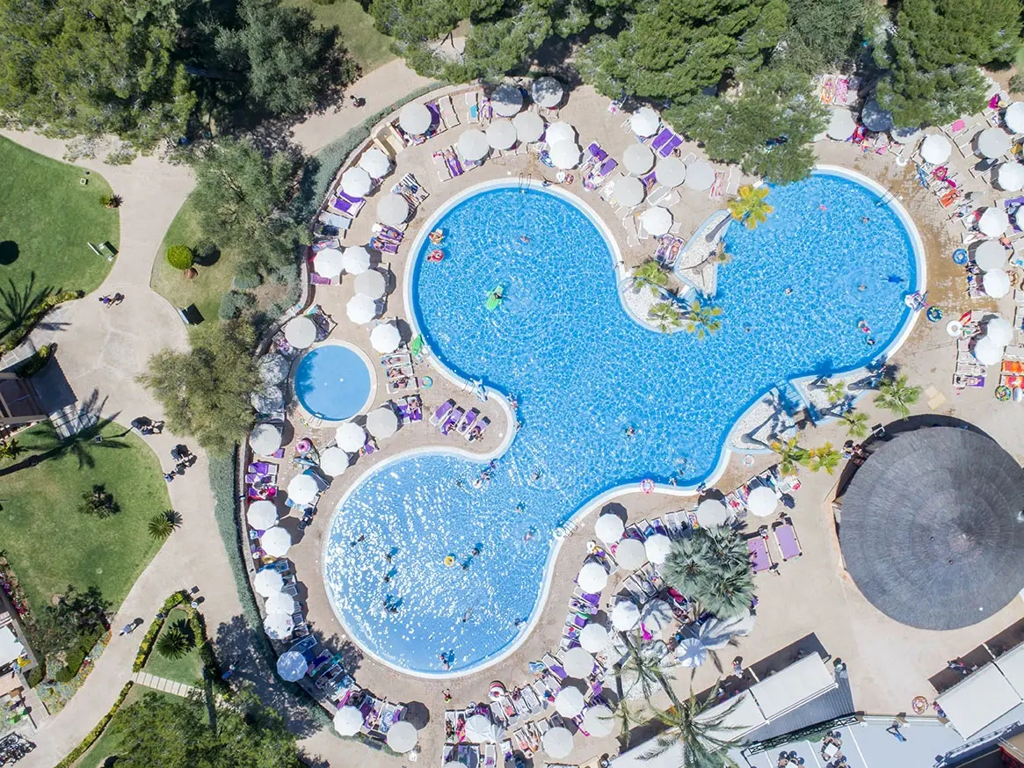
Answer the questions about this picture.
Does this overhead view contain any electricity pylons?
No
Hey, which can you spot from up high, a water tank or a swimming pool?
swimming pool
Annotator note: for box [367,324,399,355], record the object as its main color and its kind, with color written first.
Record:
white umbrella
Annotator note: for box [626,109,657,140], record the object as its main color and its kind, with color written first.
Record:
white umbrella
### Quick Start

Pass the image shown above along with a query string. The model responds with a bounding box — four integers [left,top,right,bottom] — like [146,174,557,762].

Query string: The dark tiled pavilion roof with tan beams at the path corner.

[0,375,63,426]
